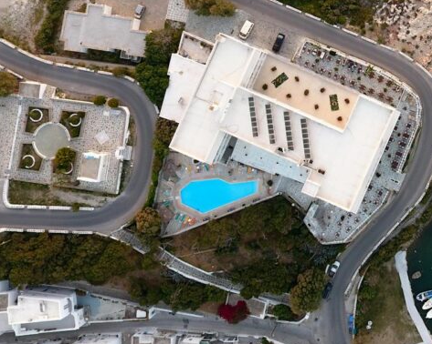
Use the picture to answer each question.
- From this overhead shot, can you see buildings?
Yes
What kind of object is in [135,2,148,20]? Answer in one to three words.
vehicle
